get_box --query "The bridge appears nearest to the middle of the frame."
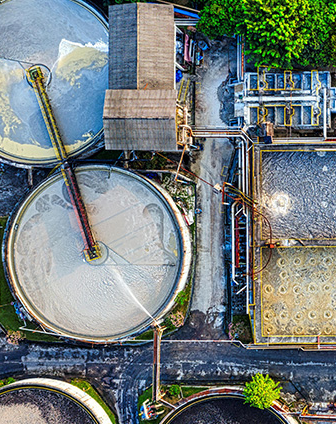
[61,162,97,255]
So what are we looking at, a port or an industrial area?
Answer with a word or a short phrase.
industrial area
